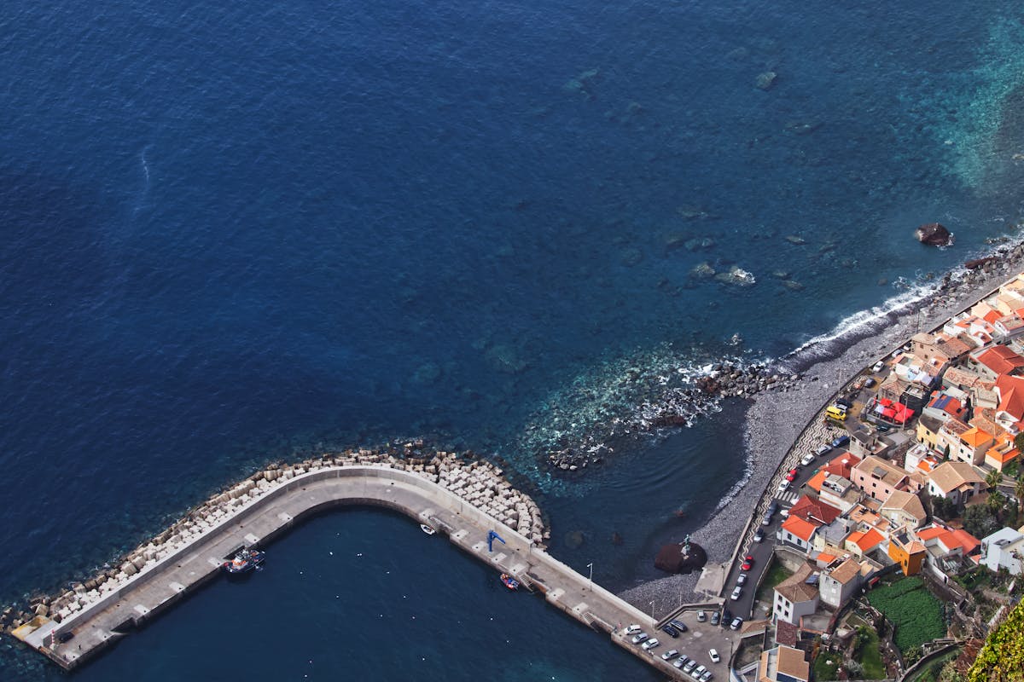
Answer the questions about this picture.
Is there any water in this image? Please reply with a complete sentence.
Yes, there's water in this view.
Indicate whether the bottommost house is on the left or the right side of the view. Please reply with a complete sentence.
The bottommost house is on the right side of the image.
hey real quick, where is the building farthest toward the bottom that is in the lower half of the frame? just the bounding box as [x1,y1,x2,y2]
[759,642,808,682]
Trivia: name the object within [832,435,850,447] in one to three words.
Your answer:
vehicle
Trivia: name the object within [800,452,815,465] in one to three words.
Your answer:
vehicle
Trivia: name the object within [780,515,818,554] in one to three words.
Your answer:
house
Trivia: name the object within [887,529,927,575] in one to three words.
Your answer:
house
